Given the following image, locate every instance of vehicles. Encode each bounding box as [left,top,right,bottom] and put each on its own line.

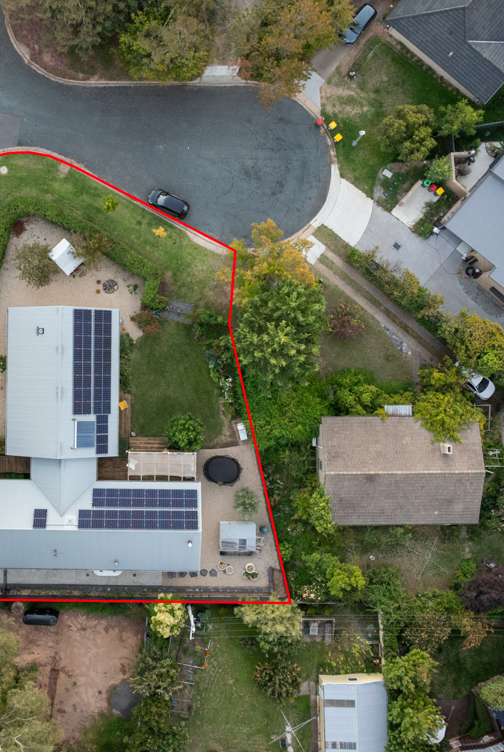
[453,361,497,403]
[145,187,193,221]
[337,0,381,48]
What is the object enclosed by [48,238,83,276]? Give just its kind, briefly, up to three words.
house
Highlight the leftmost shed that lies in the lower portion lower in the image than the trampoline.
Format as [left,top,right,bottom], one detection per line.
[218,519,257,551]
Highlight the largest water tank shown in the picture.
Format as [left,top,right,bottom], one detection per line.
[24,608,60,624]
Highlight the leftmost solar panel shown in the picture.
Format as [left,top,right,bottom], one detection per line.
[33,509,47,529]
